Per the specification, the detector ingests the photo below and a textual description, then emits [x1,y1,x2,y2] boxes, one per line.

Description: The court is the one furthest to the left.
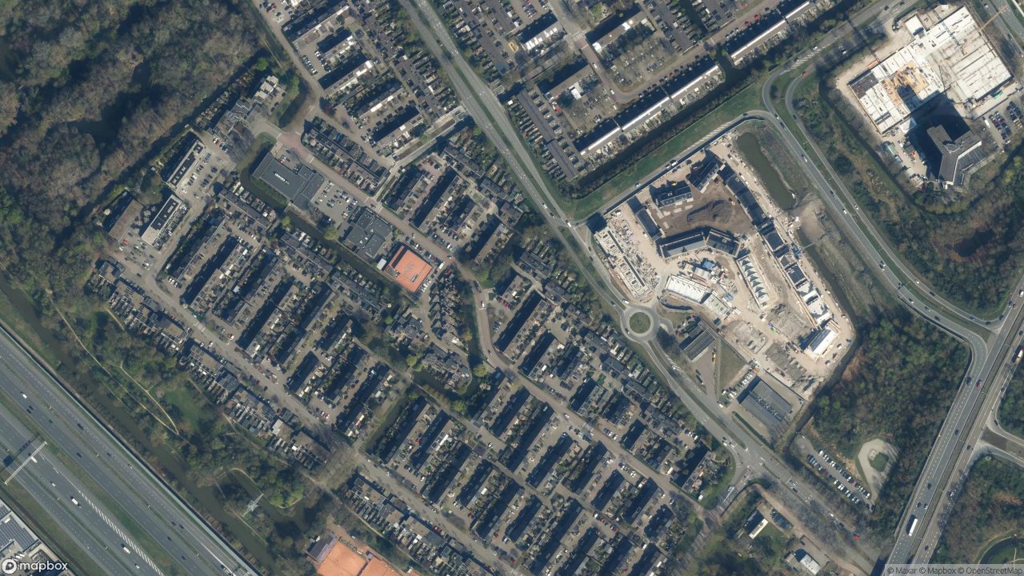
[312,542,366,576]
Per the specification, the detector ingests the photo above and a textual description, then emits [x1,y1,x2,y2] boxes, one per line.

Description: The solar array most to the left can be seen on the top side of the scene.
[152,199,178,230]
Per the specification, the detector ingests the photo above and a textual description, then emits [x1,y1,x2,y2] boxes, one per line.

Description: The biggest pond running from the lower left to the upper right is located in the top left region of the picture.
[76,60,162,148]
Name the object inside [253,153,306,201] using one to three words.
building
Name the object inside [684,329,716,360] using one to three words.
building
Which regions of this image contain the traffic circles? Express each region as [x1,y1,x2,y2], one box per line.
[620,303,660,343]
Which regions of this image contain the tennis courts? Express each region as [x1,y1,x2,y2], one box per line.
[362,557,401,576]
[312,542,366,576]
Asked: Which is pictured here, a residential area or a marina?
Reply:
residential area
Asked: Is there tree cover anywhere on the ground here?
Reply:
Yes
